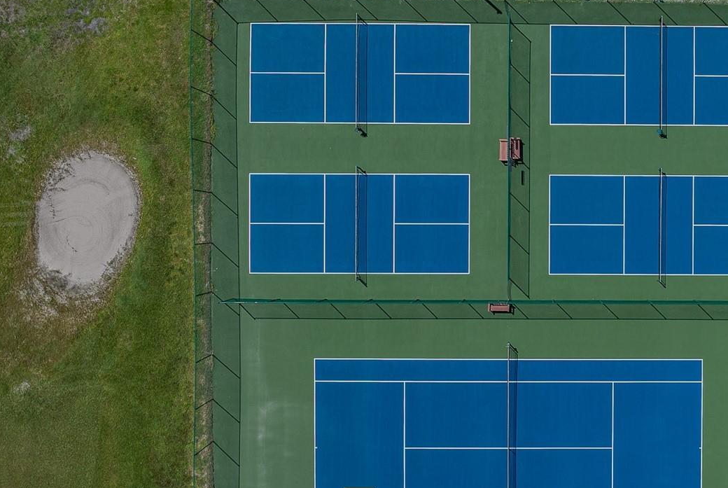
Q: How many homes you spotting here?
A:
none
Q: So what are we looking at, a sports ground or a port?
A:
sports ground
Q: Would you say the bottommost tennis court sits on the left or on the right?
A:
right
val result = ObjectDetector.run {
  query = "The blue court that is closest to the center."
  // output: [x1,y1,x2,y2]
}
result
[250,173,470,274]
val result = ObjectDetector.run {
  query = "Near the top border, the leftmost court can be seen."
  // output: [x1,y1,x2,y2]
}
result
[250,23,470,124]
